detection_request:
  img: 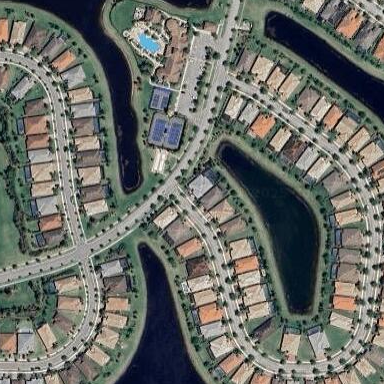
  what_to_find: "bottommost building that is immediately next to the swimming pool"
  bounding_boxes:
[153,17,189,84]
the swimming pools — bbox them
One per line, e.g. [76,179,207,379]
[127,21,168,60]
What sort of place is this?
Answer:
residential area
